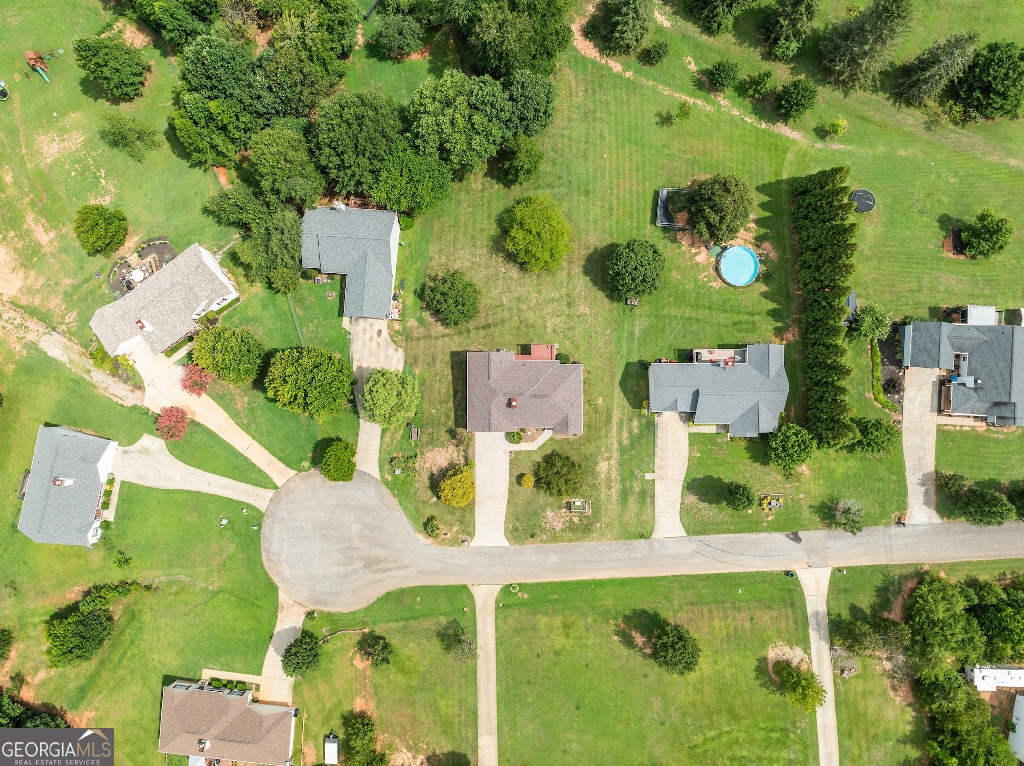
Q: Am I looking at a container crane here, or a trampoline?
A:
trampoline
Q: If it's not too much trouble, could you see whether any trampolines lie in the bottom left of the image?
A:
No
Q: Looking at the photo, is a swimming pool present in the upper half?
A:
Yes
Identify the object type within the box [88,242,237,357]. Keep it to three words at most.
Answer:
house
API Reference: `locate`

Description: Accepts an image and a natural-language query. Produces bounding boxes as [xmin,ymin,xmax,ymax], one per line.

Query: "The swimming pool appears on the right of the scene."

[715,242,762,287]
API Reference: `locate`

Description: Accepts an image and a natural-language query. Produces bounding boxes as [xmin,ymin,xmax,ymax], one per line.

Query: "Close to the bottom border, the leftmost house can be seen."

[156,667,298,766]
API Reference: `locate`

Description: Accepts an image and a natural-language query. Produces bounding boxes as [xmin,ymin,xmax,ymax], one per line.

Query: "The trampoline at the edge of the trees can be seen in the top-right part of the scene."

[851,188,876,213]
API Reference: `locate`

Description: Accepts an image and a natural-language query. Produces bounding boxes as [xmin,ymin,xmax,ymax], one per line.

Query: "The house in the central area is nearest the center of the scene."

[466,351,583,435]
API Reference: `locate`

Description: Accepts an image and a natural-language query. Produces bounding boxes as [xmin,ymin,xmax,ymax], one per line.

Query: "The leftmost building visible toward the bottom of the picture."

[17,425,121,548]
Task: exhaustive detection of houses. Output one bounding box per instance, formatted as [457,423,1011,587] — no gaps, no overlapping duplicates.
[648,343,792,437]
[998,688,1024,750]
[466,351,583,435]
[902,321,1024,427]
[17,425,121,548]
[88,242,237,357]
[299,201,398,320]
[156,667,298,766]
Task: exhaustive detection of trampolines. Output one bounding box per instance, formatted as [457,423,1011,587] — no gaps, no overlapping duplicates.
[0,85,14,103]
[851,188,876,213]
